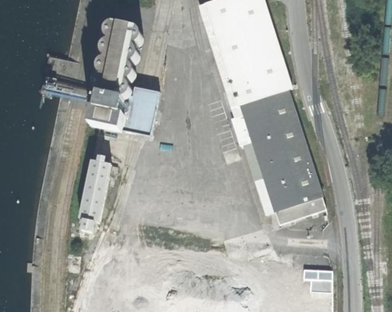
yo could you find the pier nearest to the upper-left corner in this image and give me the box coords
[46,54,85,82]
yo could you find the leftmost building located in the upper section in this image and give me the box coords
[84,88,130,139]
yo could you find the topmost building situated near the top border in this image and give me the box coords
[198,0,294,108]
